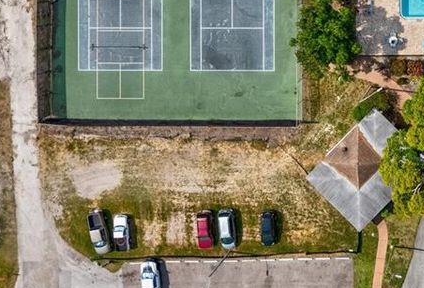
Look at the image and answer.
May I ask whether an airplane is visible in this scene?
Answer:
No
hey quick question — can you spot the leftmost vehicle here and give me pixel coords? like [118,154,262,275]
[84,210,112,254]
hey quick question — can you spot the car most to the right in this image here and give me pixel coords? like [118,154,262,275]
[260,211,278,246]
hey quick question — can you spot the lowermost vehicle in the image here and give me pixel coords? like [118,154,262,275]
[140,260,159,288]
